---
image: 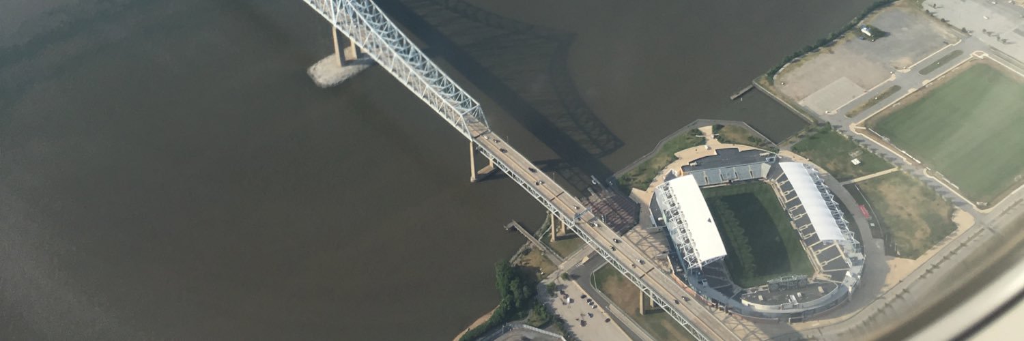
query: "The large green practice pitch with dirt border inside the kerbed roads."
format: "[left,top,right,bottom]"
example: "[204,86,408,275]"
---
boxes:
[862,57,1024,208]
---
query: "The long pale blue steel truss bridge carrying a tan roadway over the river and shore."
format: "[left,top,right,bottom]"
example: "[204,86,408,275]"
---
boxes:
[303,0,743,341]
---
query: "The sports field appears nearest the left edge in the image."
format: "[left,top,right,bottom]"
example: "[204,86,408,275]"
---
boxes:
[701,179,815,287]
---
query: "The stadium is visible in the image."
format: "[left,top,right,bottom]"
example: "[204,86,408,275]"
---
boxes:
[646,151,865,322]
